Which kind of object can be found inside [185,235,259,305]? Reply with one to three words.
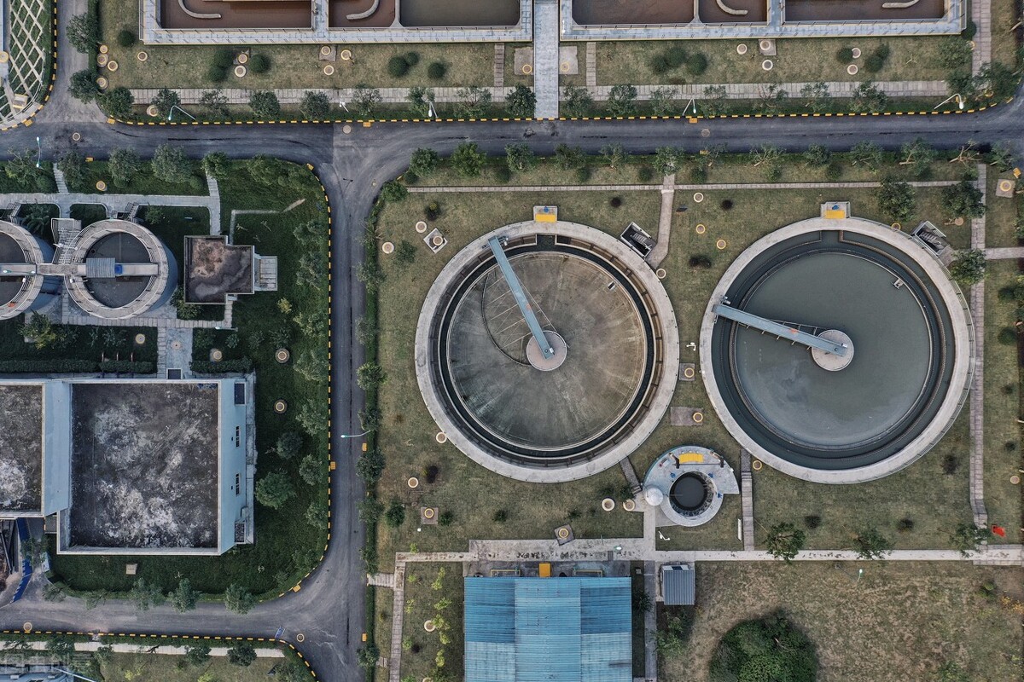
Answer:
building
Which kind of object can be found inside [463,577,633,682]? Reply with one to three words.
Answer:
shed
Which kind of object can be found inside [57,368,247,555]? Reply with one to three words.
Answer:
building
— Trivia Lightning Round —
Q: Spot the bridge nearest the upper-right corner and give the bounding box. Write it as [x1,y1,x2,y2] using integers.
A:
[709,298,848,356]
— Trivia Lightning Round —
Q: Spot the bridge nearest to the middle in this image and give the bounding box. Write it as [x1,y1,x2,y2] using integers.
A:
[484,235,552,357]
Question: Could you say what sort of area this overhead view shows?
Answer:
industrial area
